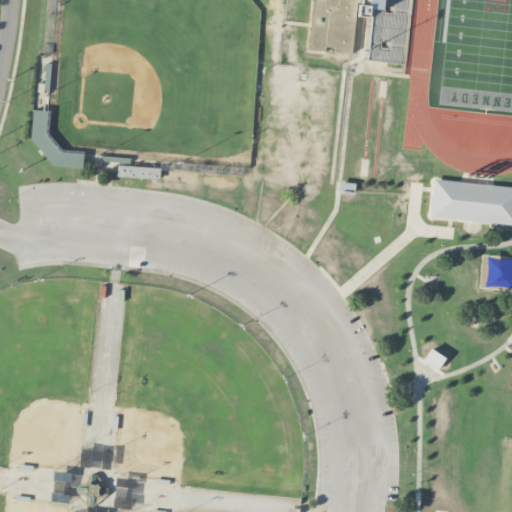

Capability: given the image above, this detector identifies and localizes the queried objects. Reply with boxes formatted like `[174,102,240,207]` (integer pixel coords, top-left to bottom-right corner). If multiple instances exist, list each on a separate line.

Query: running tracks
[404,0,512,176]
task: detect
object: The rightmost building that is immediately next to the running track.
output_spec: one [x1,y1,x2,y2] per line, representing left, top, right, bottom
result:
[432,180,512,226]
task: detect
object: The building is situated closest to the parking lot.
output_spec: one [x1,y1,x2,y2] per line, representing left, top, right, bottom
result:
[118,163,162,180]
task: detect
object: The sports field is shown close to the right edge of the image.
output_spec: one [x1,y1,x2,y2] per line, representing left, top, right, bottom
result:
[430,0,512,117]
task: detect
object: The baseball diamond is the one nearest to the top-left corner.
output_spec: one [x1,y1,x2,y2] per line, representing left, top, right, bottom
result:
[54,0,260,172]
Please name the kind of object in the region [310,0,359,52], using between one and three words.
building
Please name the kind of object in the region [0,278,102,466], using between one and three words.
baseball field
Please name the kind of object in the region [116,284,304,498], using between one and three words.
baseball field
